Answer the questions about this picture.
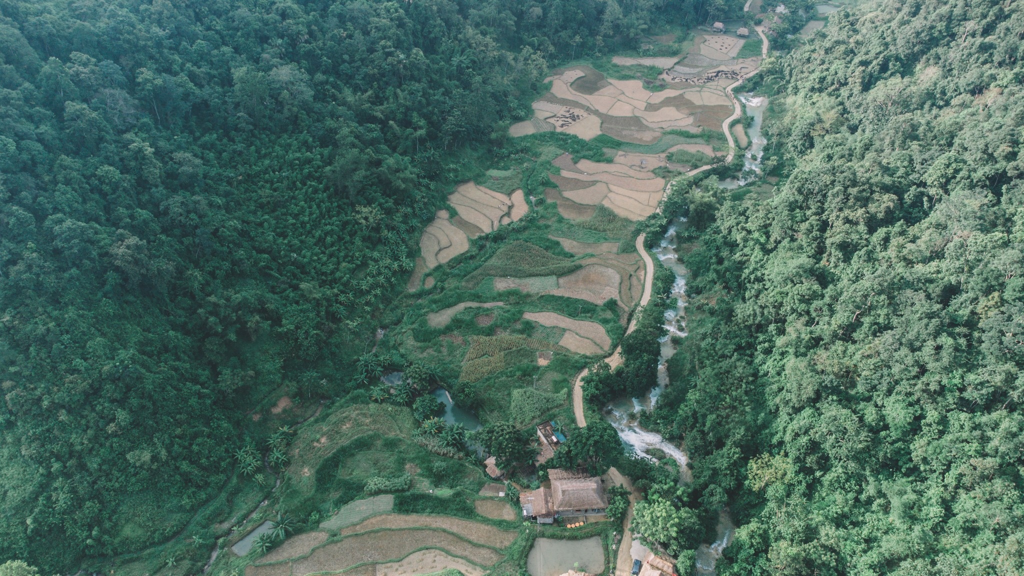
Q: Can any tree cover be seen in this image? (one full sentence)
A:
Yes, tree cover can be seen from above here.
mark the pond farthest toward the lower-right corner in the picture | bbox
[527,537,604,576]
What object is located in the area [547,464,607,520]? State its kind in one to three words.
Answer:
house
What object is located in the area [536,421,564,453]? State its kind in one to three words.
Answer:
building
